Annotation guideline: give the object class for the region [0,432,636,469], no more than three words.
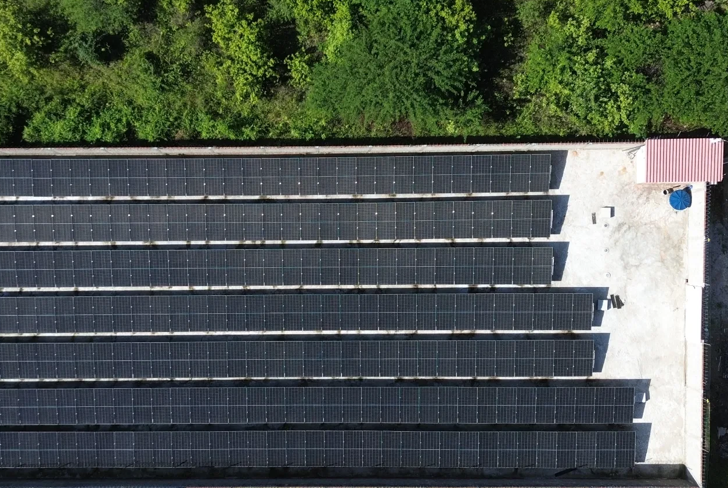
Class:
solar array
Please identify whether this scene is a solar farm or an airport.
solar farm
